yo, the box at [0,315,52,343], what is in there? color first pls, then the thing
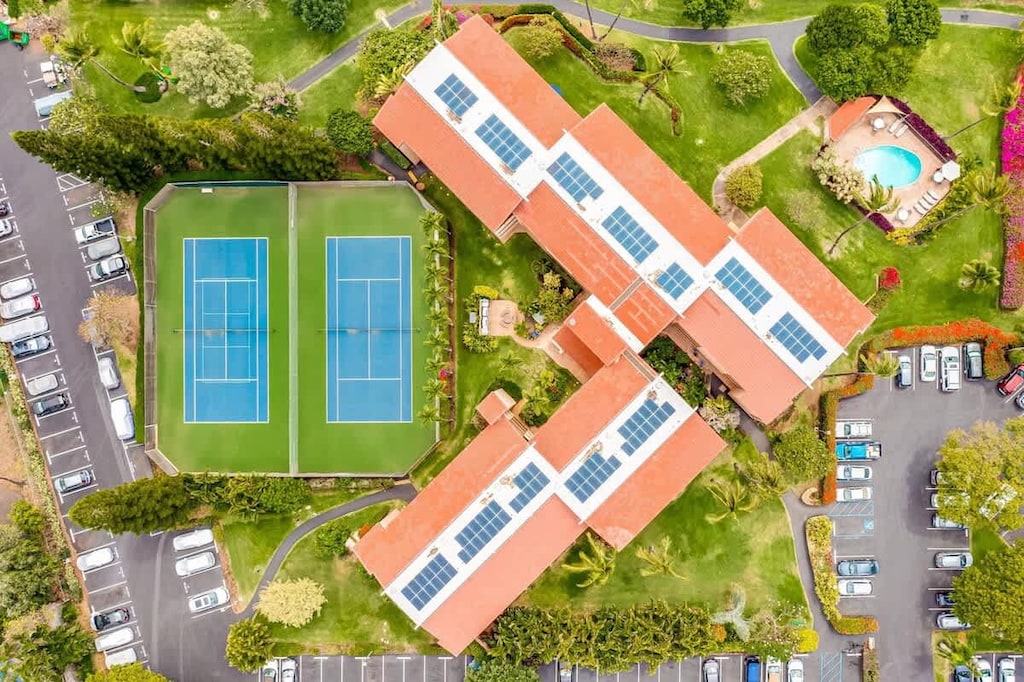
white vehicle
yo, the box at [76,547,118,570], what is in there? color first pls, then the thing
white car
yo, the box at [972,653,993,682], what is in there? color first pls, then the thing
white car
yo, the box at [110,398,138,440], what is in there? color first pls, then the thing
white vehicle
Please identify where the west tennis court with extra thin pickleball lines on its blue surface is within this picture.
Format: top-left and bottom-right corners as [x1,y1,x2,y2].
[157,187,289,472]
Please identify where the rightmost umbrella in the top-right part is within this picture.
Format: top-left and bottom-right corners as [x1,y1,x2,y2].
[941,160,961,179]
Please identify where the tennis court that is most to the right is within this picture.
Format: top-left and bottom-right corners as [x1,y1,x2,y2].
[297,187,437,472]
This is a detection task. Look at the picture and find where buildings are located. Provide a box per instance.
[354,344,728,657]
[374,14,875,423]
